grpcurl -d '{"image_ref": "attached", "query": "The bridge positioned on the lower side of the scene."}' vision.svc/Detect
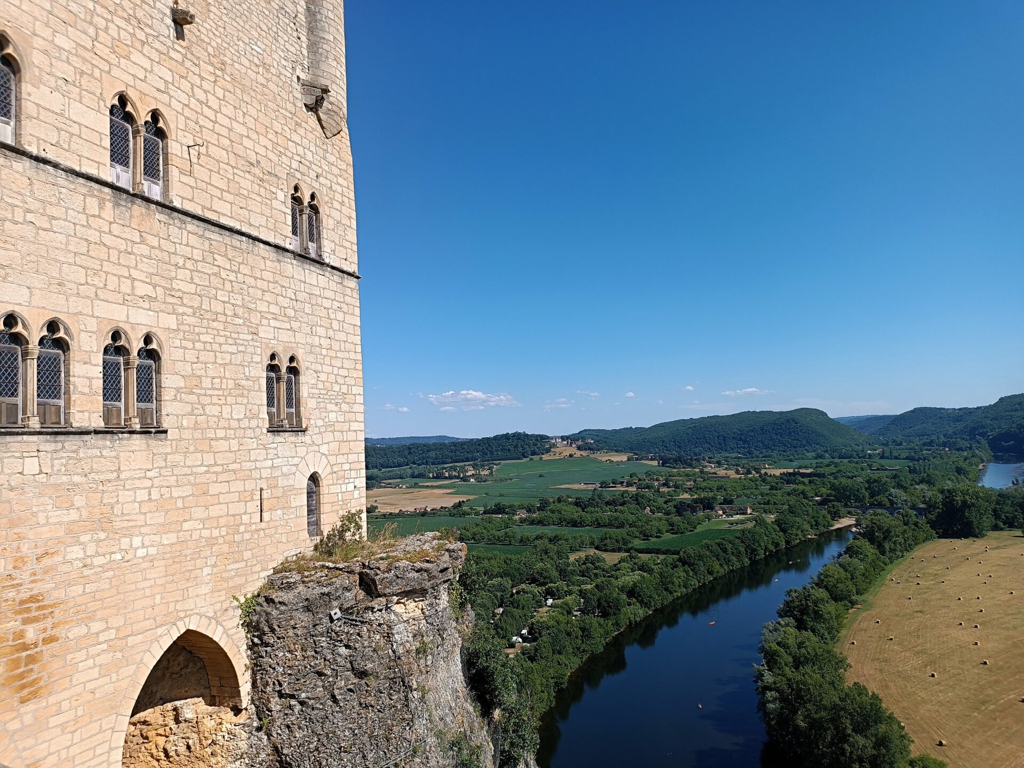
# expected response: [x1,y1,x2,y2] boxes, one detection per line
[744,503,922,524]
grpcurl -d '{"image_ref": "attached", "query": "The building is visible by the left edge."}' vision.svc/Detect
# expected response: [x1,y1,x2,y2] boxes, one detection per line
[0,0,366,768]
